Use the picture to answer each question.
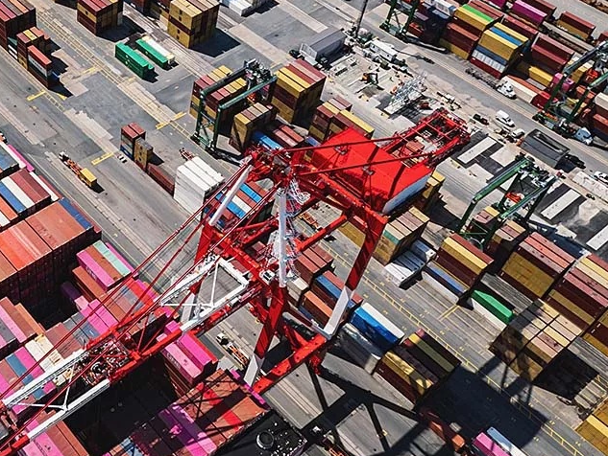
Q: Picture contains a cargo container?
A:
Yes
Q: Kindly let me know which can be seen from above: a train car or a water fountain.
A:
train car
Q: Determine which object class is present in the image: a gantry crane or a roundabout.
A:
gantry crane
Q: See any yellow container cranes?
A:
No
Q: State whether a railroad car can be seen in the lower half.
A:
No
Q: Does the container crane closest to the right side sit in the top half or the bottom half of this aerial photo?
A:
top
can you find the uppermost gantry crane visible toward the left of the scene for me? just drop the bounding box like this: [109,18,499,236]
[192,64,277,150]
